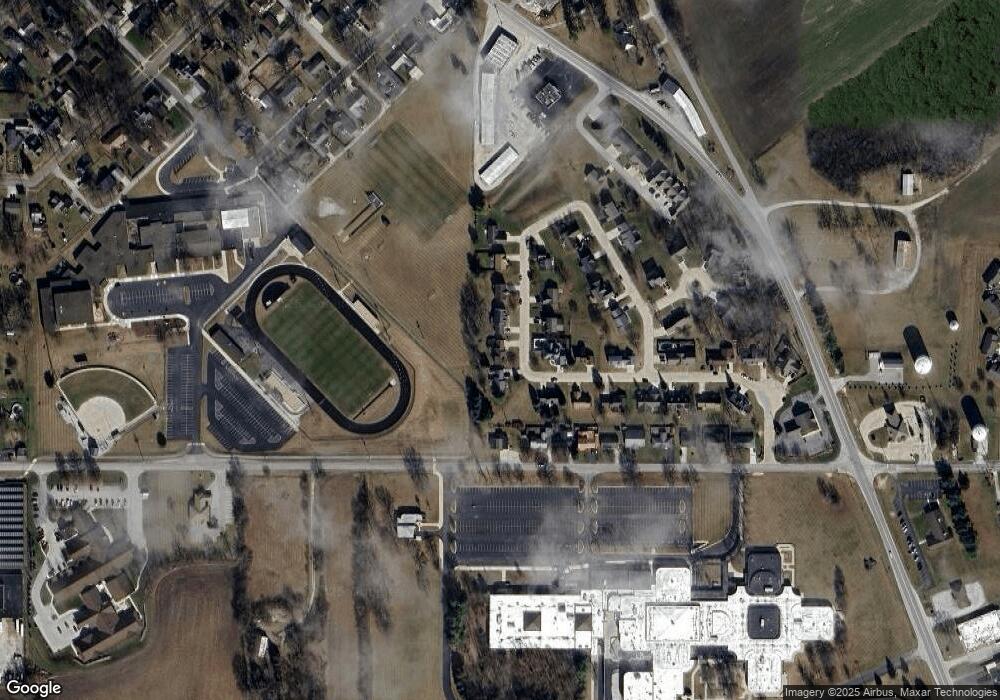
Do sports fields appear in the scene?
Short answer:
Yes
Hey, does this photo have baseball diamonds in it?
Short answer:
Yes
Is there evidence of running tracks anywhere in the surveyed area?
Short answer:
Yes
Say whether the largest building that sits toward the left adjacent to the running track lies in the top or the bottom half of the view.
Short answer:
top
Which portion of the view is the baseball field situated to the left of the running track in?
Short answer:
left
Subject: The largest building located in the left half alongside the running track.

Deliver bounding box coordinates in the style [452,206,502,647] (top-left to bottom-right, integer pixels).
[73,198,262,279]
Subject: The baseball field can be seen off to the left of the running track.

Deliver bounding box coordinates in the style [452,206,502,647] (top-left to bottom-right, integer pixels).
[57,369,159,457]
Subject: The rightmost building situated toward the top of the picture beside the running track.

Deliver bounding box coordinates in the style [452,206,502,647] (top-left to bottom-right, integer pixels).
[285,224,317,257]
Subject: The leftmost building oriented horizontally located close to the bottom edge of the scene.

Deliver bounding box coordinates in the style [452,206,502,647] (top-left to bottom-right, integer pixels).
[490,548,835,700]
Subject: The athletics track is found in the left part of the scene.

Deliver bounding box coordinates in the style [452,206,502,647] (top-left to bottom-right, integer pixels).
[217,265,410,434]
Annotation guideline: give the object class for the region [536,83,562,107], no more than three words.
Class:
building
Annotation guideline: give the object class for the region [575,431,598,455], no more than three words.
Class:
house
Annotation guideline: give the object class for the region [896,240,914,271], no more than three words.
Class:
barn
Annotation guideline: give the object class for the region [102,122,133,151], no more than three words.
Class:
house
